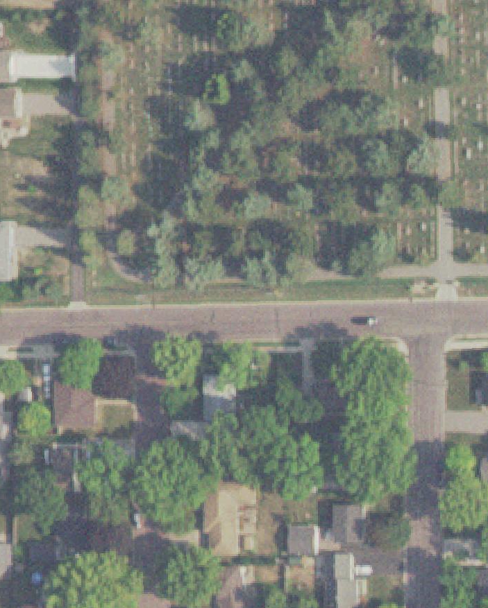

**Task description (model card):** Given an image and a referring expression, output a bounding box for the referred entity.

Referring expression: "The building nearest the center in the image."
[203,376,242,419]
